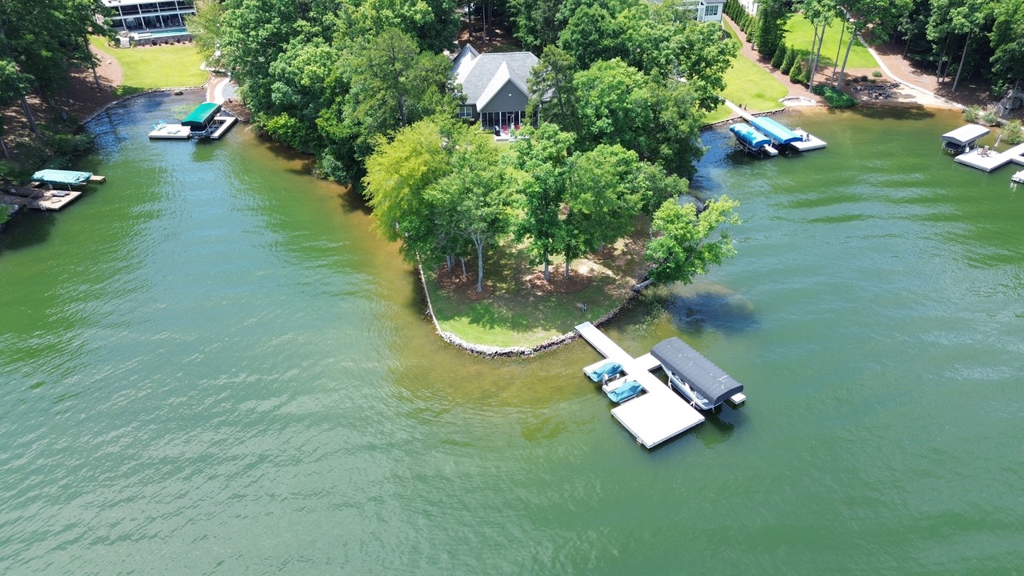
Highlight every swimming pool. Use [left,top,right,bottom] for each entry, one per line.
[135,25,202,43]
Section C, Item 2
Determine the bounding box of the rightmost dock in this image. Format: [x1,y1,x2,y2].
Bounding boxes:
[954,139,1024,175]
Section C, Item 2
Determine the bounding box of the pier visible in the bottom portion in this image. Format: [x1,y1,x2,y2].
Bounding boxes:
[573,321,746,451]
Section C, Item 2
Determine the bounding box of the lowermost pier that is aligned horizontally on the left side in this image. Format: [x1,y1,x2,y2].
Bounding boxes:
[0,183,80,213]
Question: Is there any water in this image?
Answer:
Yes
